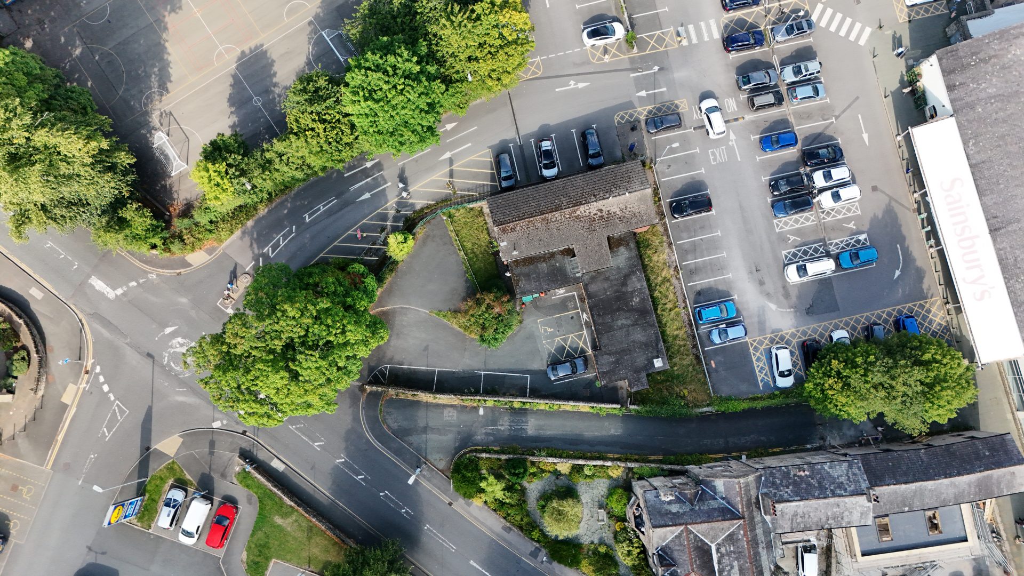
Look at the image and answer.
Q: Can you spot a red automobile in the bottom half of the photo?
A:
Yes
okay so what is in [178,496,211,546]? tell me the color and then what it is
white van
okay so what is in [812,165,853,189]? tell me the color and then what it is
white car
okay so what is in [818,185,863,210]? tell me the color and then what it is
white car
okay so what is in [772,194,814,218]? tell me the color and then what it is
blue car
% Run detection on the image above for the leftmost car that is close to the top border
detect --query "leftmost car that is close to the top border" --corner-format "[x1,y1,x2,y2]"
[581,20,625,47]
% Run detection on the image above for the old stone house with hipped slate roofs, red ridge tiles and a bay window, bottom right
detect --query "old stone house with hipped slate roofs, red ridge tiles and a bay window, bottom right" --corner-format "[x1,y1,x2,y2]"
[623,465,777,576]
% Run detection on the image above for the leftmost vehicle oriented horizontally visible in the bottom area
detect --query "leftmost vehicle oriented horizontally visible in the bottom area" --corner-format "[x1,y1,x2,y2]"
[546,356,589,380]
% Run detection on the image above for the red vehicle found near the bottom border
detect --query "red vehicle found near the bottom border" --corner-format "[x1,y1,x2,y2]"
[207,502,237,548]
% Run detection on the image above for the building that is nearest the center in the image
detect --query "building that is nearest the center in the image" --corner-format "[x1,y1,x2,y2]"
[486,161,669,392]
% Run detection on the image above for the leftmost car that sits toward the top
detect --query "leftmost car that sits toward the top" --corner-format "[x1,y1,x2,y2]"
[497,153,517,189]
